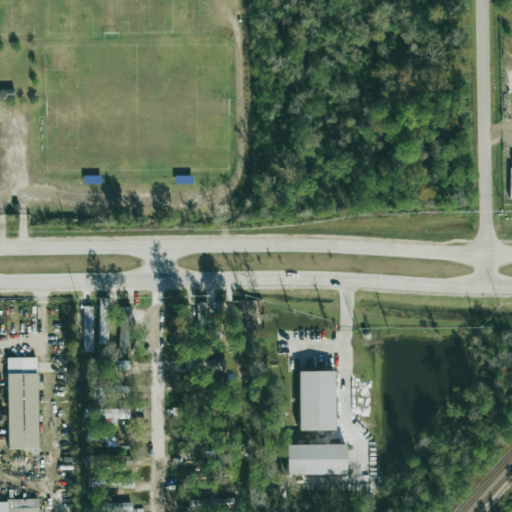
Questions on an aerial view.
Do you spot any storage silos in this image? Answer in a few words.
No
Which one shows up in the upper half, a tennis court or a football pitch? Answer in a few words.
football pitch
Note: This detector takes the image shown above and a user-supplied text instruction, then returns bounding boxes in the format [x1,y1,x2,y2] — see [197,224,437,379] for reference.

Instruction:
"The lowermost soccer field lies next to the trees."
[40,40,233,173]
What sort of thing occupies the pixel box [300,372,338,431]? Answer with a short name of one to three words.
building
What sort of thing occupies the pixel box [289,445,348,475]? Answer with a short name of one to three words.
building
